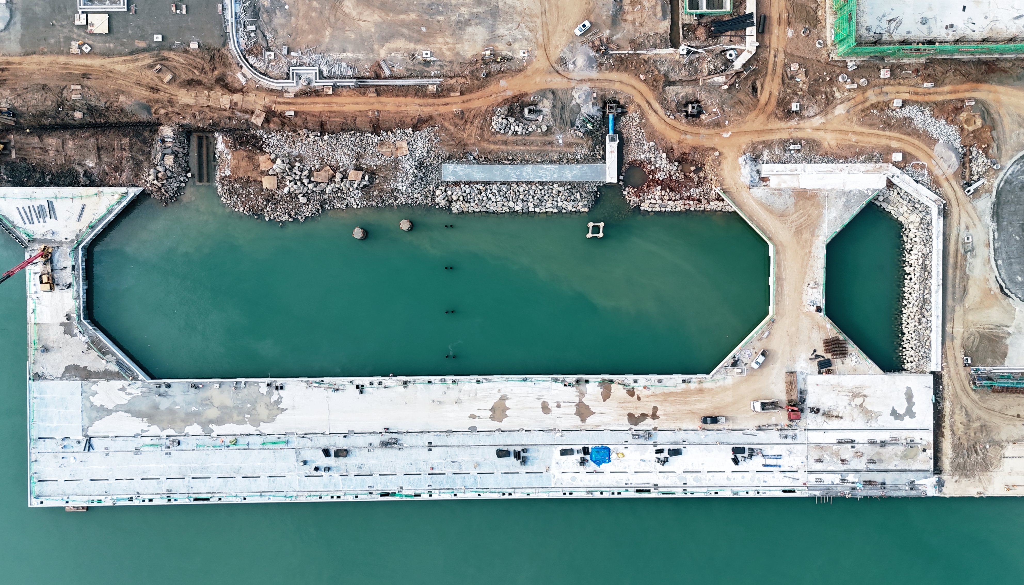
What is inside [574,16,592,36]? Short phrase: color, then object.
white car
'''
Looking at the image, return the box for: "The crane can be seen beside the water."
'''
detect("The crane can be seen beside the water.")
[0,244,66,292]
